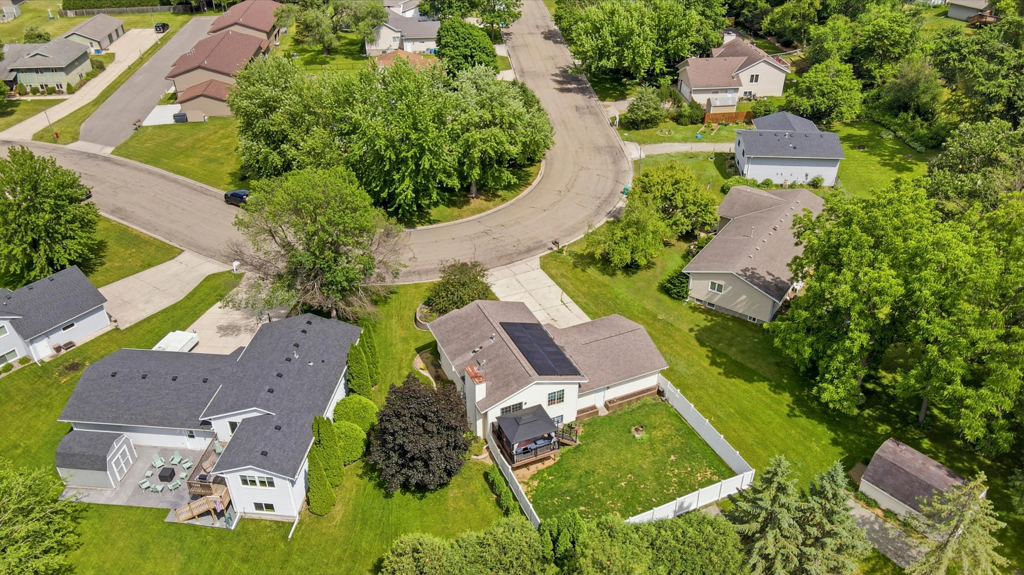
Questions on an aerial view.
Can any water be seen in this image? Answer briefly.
No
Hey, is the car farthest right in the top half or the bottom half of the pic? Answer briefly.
top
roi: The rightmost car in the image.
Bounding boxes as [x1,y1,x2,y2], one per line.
[220,185,255,205]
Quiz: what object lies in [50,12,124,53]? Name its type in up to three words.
building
